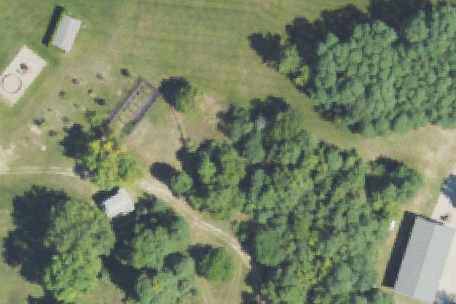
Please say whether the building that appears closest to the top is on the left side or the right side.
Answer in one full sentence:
It is on the left.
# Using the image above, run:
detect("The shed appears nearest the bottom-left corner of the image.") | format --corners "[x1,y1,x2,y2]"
[103,189,134,217]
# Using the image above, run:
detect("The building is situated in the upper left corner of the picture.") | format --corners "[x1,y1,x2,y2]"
[52,16,82,52]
